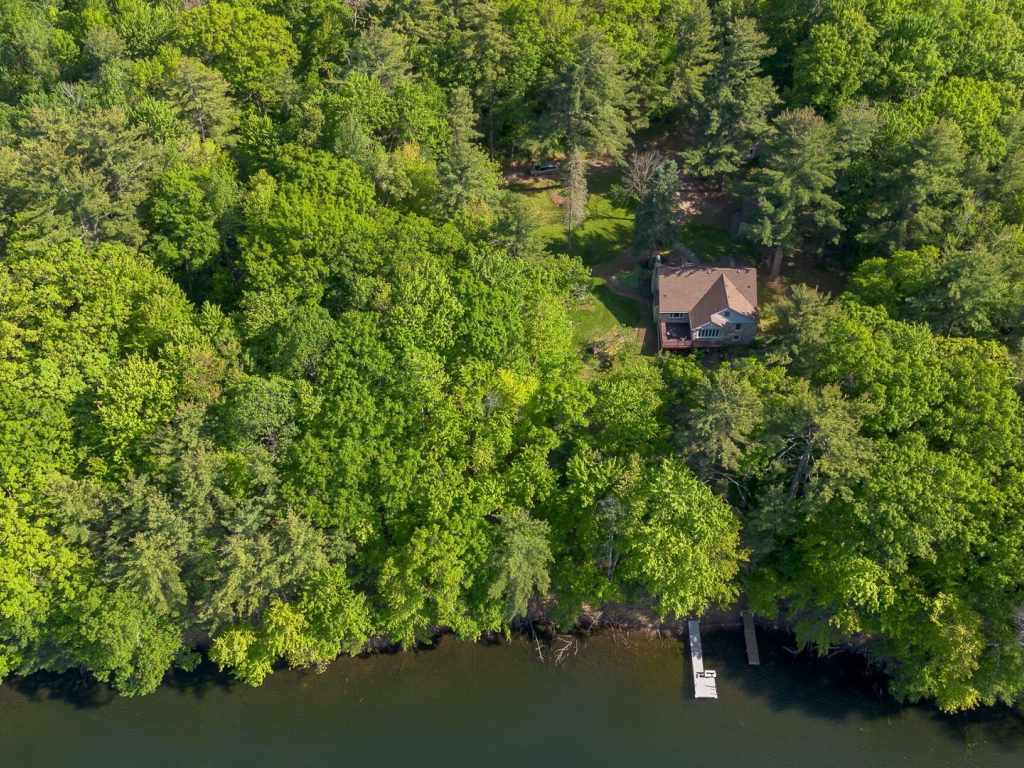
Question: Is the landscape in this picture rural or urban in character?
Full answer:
The area shown here is rural.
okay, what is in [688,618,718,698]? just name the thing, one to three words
pier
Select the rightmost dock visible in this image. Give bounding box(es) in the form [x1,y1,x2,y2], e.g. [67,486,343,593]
[743,614,759,665]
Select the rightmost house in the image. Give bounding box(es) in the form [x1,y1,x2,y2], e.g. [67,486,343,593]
[650,262,758,361]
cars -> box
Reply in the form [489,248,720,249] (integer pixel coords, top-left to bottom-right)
[525,165,558,180]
